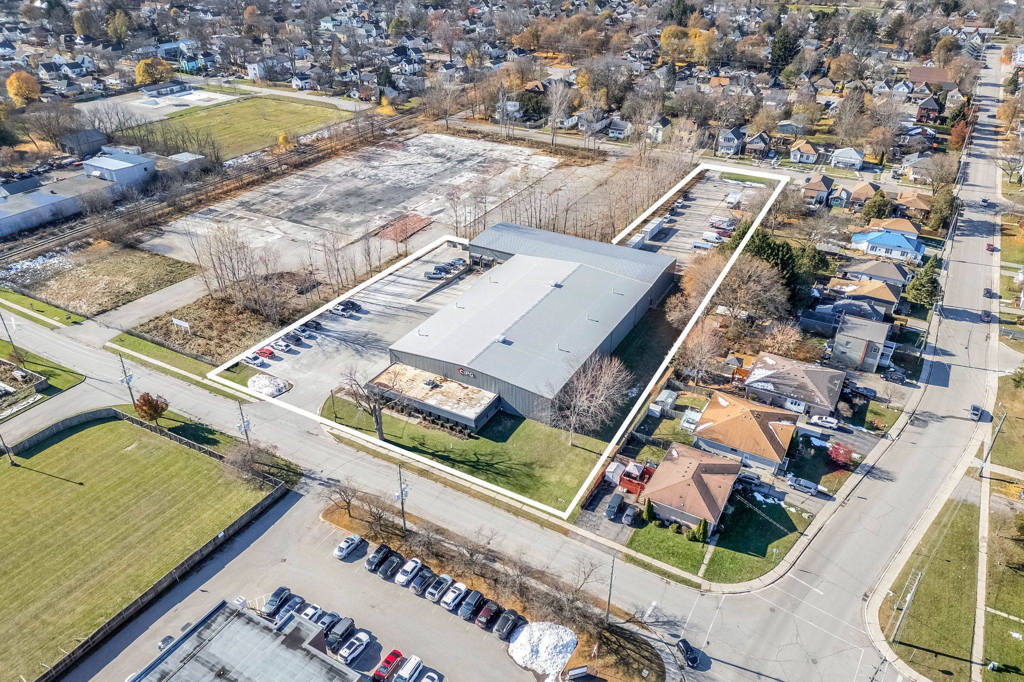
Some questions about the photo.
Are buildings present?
Yes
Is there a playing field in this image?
Yes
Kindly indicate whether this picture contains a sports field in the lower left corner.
Yes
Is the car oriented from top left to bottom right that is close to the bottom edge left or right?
right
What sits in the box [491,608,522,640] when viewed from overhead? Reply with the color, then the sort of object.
gray car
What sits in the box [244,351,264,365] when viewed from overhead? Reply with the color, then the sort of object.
white car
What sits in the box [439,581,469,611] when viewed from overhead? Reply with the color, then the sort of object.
white car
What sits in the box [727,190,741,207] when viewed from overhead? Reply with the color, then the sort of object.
white vehicle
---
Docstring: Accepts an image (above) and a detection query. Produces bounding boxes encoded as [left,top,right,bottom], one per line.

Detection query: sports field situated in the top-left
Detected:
[122,97,351,159]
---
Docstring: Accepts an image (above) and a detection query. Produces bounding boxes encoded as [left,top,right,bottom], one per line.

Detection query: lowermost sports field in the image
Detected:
[0,416,272,682]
